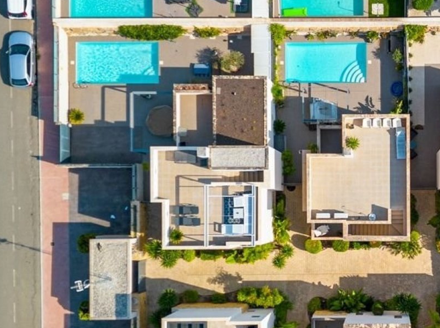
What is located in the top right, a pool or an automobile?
pool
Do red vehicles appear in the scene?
No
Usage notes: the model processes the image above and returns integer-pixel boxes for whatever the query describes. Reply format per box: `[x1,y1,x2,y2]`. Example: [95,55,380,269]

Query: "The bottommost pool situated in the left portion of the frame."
[73,39,160,89]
